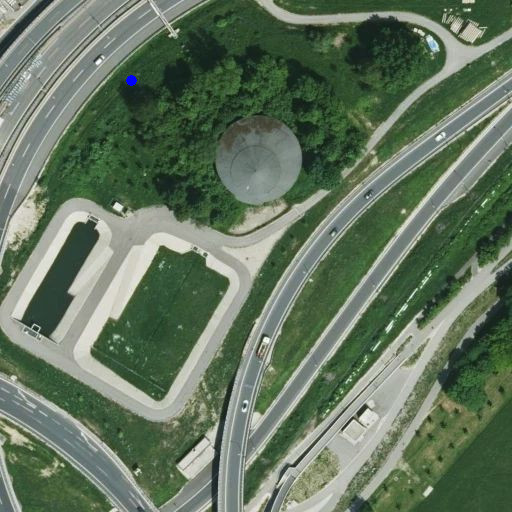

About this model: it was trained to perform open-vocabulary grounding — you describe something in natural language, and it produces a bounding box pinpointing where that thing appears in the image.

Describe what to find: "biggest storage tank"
[216,116,302,204]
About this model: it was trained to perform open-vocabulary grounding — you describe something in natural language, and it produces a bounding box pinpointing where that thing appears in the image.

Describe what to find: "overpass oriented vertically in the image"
[218,382,262,512]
